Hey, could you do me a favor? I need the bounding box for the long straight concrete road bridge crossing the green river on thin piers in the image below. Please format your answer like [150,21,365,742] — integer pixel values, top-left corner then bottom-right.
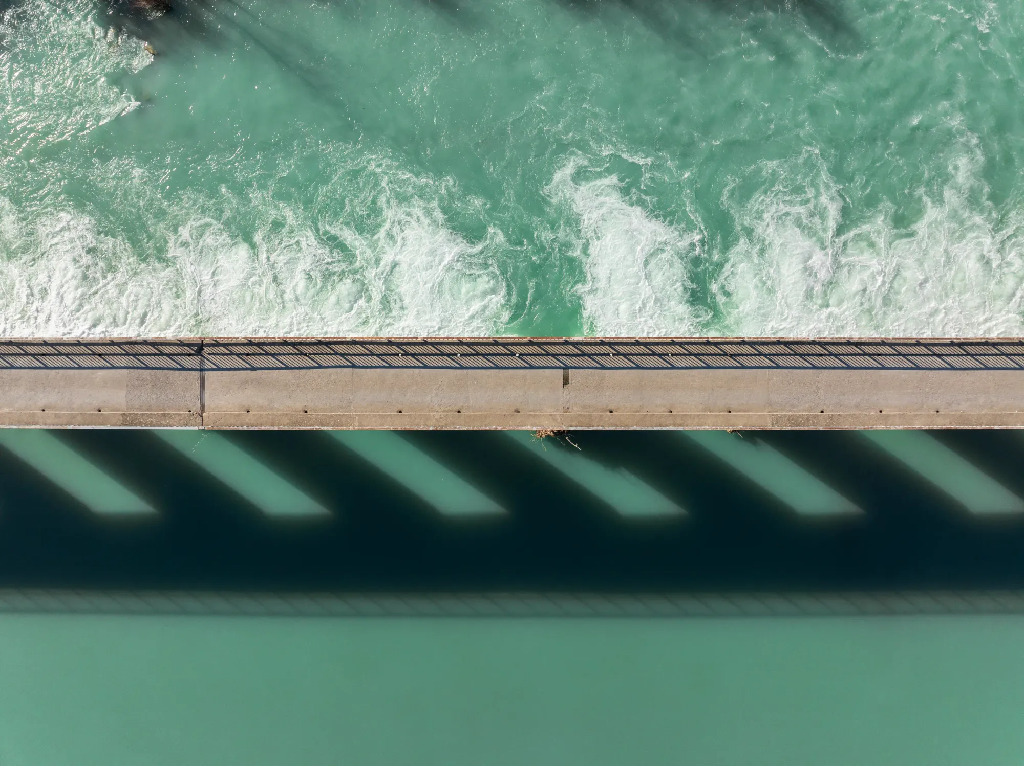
[0,339,1024,428]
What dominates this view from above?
water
